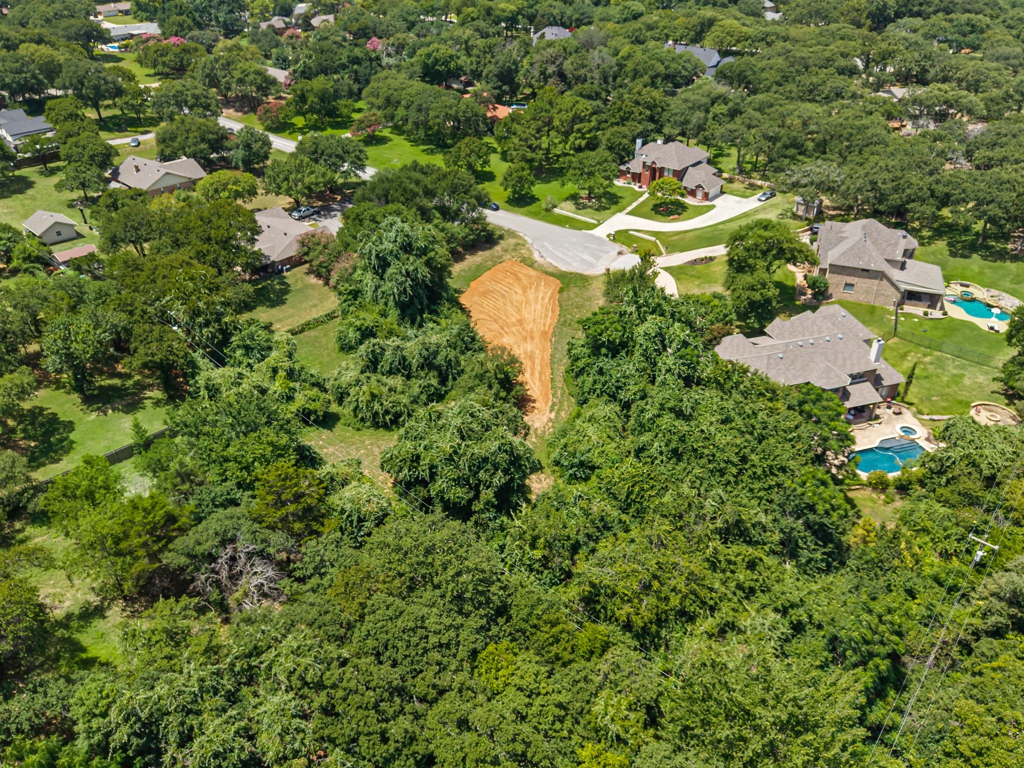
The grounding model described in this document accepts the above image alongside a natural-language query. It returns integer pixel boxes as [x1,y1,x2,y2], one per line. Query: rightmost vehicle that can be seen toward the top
[809,222,821,236]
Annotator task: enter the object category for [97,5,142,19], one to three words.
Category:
house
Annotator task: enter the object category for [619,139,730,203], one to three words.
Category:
house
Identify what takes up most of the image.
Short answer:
trees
